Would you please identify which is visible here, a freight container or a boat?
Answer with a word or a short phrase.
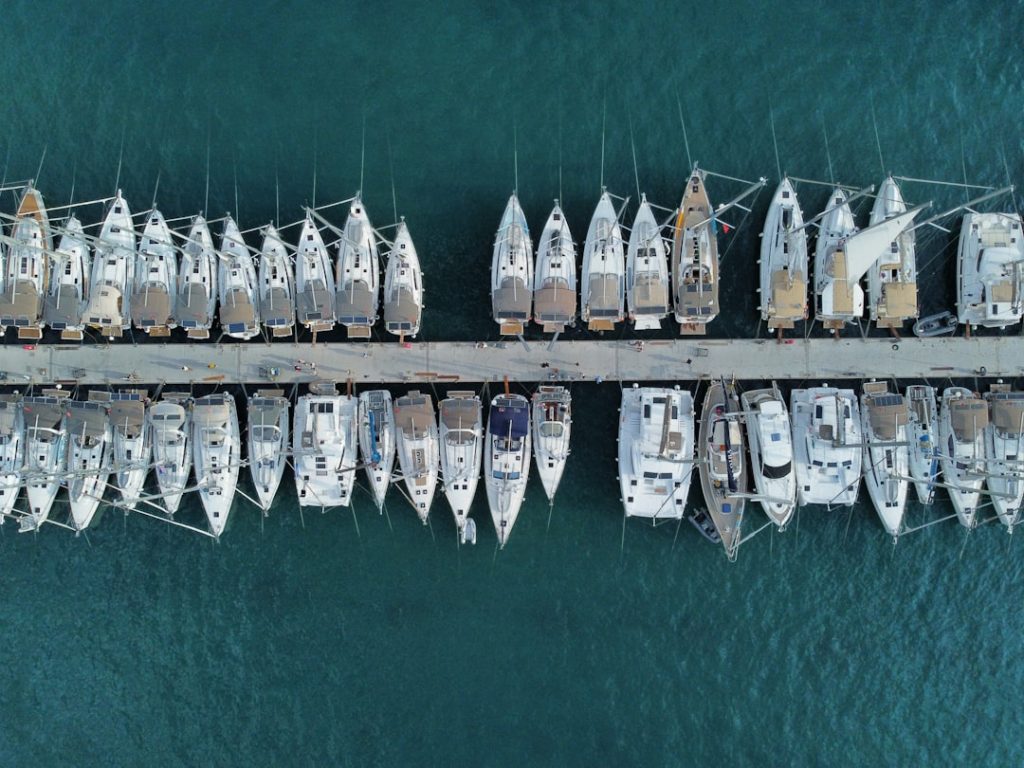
boat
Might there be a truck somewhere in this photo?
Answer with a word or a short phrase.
No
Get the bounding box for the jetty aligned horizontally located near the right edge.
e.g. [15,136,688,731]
[808,336,1002,380]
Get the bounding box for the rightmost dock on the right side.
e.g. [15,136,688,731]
[1000,336,1024,378]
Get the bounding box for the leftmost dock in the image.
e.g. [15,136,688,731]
[0,343,49,386]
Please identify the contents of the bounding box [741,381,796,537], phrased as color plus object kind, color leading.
white boat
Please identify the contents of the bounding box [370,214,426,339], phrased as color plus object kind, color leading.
white boat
